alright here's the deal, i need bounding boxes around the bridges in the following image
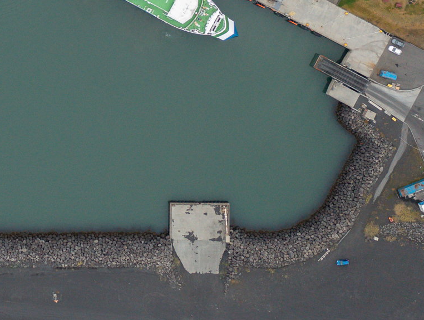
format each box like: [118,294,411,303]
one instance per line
[305,52,370,94]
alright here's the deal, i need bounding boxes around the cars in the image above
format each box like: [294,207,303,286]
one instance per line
[336,259,350,266]
[390,38,404,49]
[388,45,402,56]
